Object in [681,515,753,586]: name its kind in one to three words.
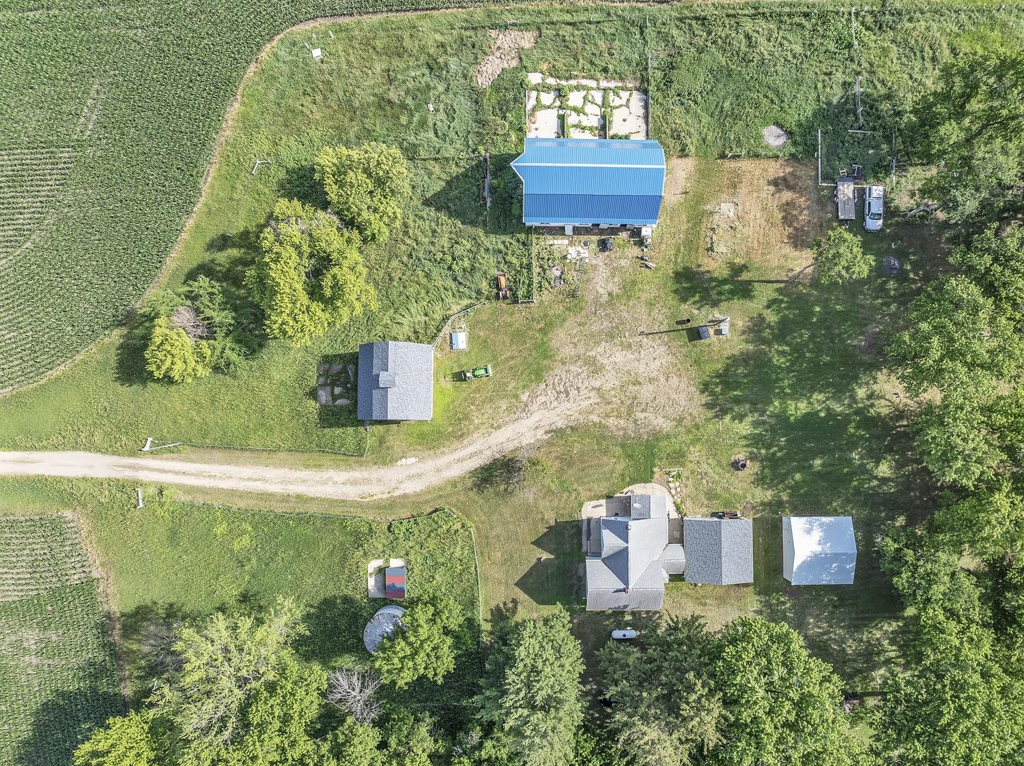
building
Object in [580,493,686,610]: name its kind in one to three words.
house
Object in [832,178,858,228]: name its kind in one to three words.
trailer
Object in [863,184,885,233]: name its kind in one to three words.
truck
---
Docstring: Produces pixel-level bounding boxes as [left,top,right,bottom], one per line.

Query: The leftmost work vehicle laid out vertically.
[496,270,510,300]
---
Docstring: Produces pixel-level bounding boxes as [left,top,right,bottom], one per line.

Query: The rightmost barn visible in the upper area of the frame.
[508,137,667,229]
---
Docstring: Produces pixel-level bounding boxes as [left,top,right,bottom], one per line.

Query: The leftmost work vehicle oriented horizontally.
[467,366,493,380]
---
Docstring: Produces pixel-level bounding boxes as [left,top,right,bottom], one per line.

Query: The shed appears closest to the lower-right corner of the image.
[784,515,859,586]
